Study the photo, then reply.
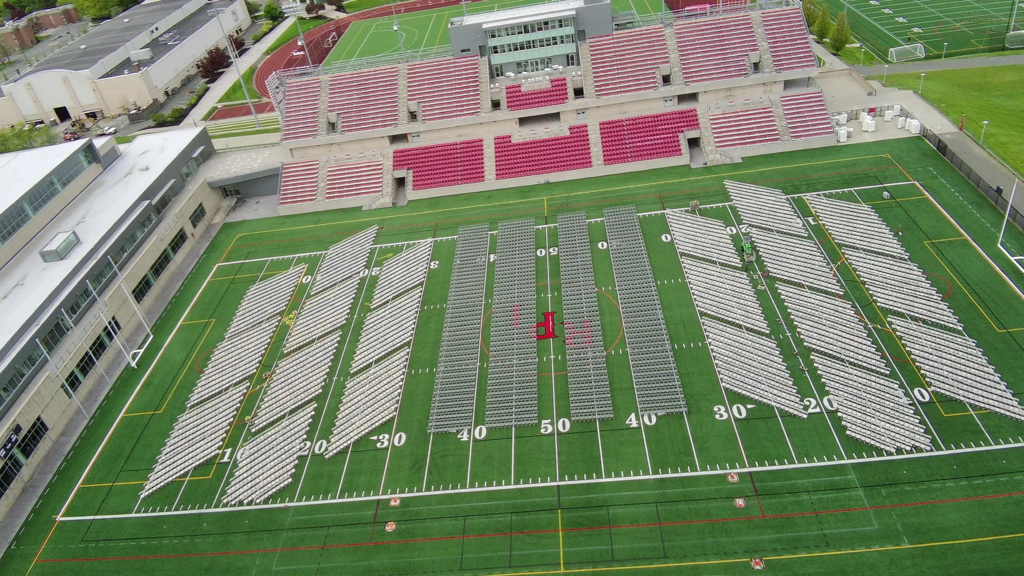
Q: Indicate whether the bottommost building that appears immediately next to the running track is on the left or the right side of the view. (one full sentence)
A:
It is on the left.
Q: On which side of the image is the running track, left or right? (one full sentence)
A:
The running track sits on the left side.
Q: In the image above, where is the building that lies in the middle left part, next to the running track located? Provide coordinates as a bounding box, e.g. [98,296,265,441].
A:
[0,125,220,517]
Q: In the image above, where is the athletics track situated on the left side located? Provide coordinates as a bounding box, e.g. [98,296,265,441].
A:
[256,0,452,91]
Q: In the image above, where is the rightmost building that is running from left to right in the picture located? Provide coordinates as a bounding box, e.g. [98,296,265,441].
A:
[448,0,614,77]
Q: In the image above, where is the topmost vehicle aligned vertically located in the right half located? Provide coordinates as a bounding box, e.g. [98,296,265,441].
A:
[741,232,757,260]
